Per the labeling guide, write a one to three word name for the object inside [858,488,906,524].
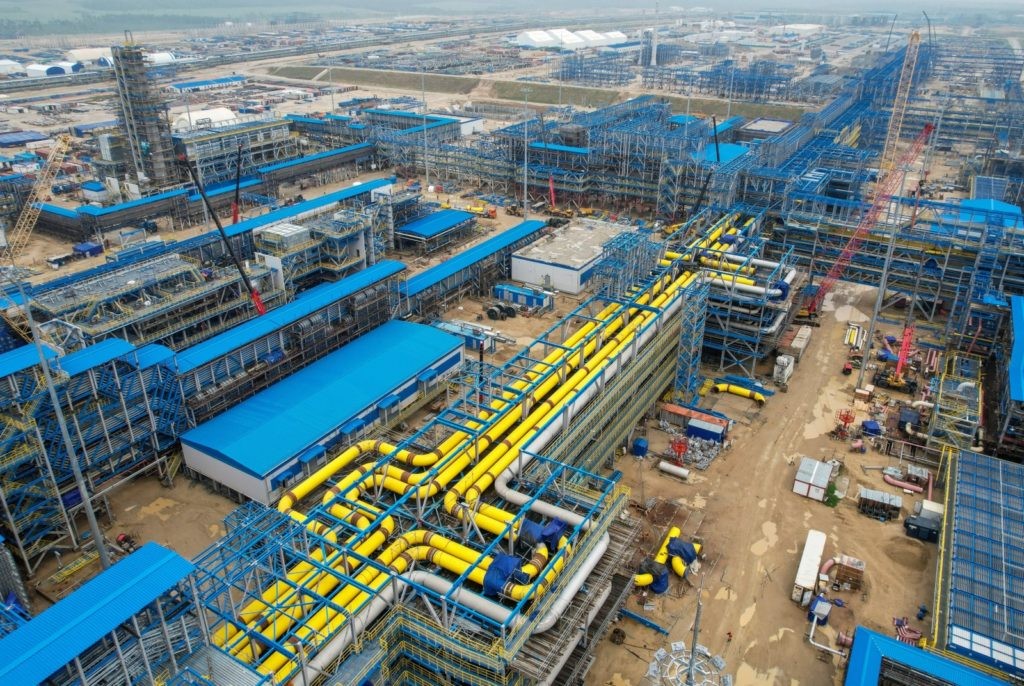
shed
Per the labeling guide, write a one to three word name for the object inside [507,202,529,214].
vehicle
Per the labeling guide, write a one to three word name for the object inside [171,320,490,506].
building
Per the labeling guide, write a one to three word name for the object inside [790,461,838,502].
building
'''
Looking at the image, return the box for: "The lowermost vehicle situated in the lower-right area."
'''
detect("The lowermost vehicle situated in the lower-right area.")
[783,528,825,628]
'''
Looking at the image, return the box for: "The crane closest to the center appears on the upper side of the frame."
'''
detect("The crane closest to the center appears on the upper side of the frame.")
[539,179,573,217]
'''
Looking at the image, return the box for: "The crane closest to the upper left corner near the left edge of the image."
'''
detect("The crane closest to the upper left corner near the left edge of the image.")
[0,137,86,272]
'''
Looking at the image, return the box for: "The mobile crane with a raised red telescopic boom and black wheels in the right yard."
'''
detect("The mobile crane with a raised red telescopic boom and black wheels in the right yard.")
[866,319,929,398]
